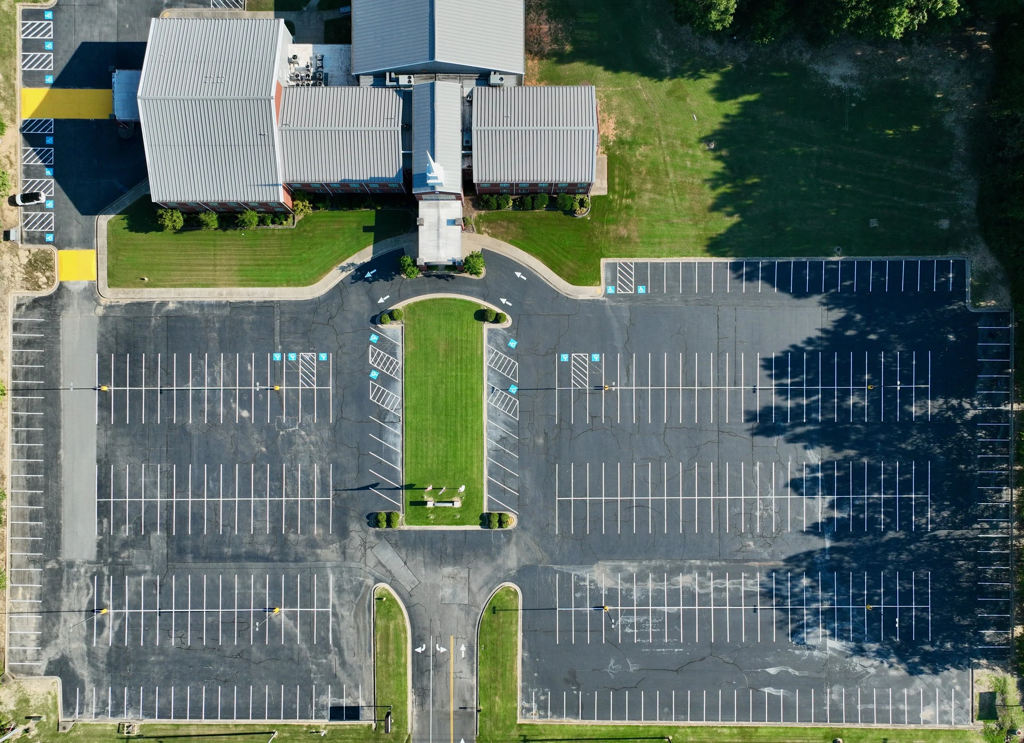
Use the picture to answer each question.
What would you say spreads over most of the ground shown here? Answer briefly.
paved ground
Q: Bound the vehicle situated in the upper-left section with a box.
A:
[17,192,46,207]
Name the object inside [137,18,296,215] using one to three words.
building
